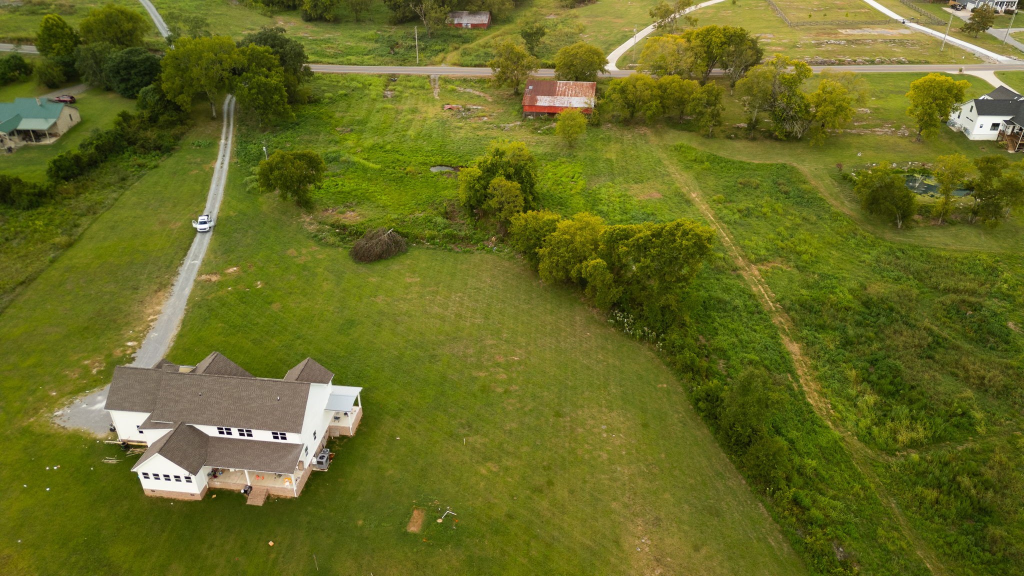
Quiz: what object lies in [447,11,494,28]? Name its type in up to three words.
shed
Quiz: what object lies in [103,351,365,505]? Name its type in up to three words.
house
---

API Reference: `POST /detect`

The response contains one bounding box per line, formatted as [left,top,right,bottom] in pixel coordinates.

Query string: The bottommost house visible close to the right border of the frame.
[955,86,1024,152]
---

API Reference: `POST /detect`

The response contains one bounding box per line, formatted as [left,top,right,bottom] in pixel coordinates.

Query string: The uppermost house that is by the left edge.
[0,97,80,146]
